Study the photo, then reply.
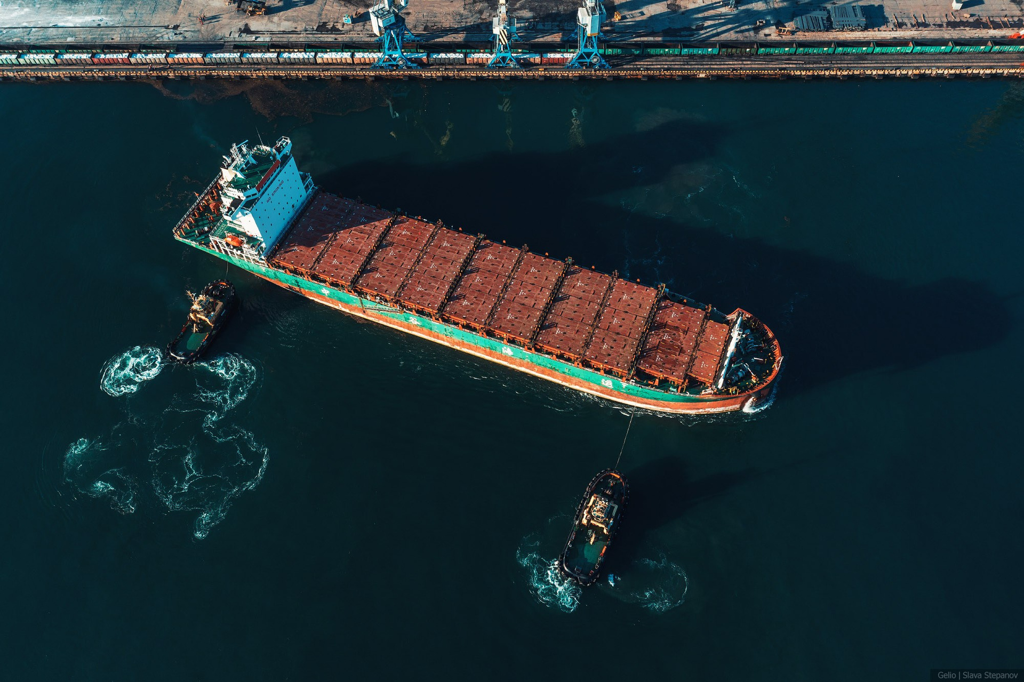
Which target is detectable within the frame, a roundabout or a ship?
ship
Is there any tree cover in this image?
No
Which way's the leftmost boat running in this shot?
diagonally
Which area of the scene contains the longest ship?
center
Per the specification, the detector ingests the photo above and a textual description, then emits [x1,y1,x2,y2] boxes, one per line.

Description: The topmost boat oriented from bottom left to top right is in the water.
[166,276,236,363]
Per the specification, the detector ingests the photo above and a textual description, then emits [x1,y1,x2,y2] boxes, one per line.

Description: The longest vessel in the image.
[173,126,785,413]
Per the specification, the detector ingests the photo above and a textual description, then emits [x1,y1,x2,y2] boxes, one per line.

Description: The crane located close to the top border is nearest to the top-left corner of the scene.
[365,0,417,69]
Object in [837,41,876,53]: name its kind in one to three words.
rail car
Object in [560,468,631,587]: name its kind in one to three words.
boat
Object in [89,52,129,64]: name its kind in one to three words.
rail car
